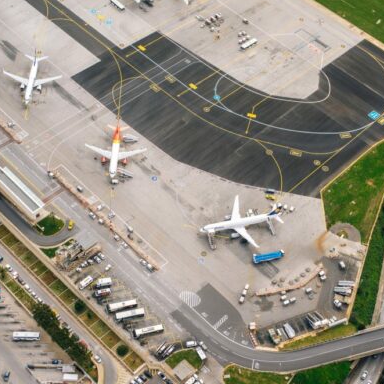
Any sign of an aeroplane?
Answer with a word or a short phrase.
Yes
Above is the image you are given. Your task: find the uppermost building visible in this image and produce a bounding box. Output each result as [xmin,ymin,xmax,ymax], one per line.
[0,167,46,223]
